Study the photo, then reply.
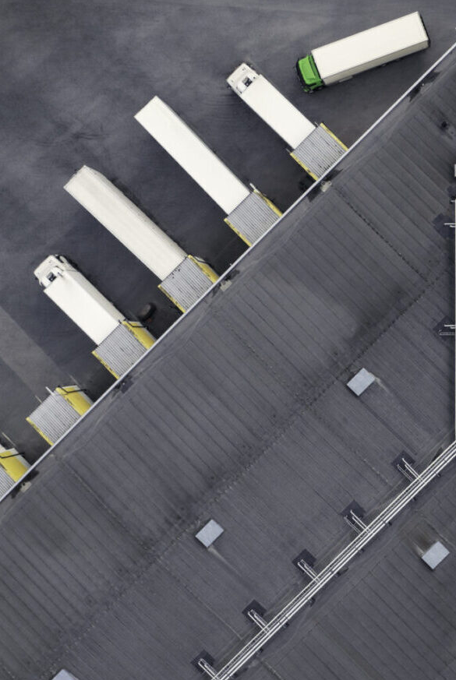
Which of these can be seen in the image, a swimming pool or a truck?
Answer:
truck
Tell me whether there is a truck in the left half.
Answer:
Yes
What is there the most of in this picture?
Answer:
buildings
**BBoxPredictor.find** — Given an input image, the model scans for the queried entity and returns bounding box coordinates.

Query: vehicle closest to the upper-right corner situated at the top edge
[291,12,429,99]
